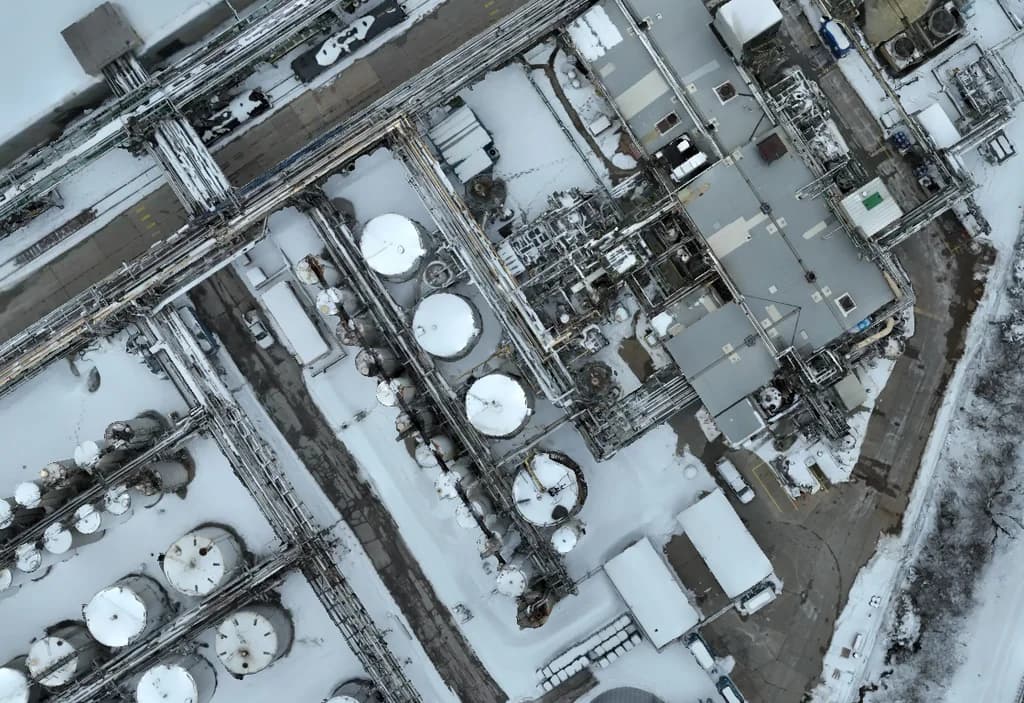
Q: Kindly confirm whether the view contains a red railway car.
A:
No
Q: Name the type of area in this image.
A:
industrial area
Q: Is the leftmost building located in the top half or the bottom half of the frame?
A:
top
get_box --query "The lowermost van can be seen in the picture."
[713,671,748,703]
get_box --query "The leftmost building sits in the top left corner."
[61,2,148,78]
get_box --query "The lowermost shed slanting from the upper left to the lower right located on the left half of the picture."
[262,282,333,365]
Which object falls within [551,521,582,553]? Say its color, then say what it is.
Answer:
white storage tank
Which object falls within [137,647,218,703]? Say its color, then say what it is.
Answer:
white storage tank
